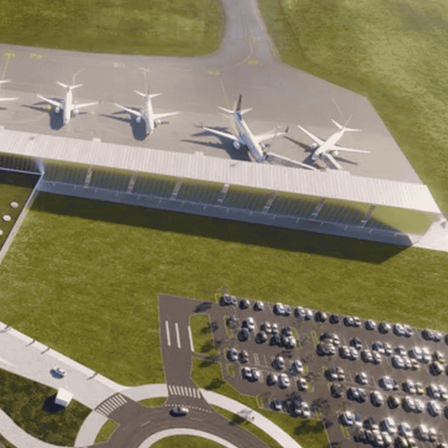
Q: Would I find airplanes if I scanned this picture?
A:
Yes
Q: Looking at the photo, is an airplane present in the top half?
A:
Yes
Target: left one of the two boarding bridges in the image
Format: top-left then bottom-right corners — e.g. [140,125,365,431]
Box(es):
[266,148,319,170]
